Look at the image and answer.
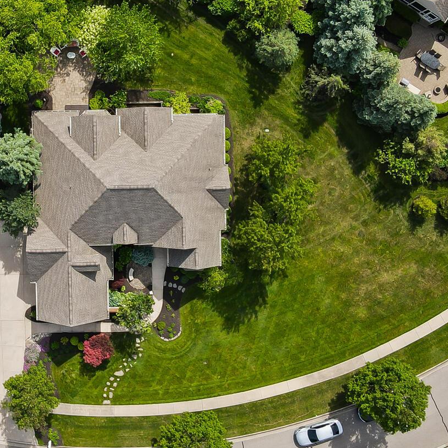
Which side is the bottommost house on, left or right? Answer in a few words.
left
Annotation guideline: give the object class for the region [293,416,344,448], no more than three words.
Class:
car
